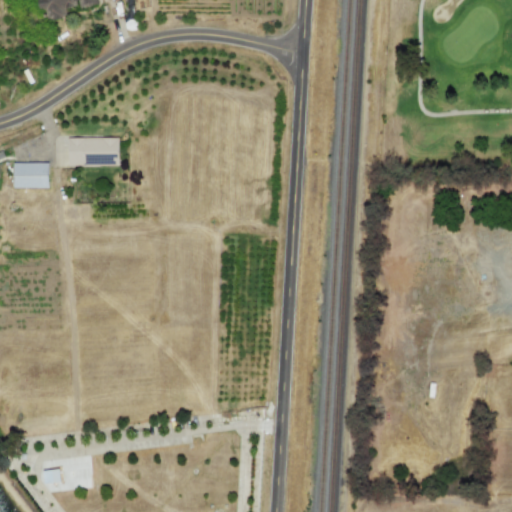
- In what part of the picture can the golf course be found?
top right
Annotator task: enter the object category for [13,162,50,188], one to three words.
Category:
barn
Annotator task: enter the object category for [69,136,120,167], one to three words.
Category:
barn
